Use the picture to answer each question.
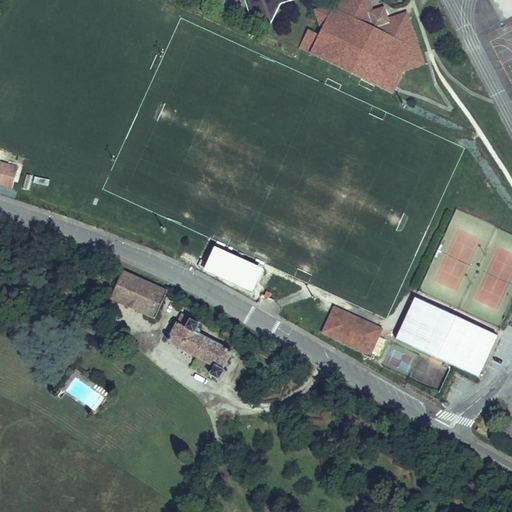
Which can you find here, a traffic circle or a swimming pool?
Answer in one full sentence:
Looking from above, you can make out a swimming pool.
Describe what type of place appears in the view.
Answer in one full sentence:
This image shows a sports ground.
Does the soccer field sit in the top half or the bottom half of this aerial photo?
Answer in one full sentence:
You can find the soccer field in the top half.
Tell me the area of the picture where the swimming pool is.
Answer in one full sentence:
The swimming pool is in the bottom left part of the image.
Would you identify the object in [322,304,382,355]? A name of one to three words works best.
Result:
building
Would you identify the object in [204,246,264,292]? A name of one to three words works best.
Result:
building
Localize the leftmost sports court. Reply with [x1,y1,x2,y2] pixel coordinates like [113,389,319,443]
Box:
[381,342,419,378]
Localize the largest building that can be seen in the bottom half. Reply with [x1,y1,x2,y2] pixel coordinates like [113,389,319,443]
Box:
[396,296,498,376]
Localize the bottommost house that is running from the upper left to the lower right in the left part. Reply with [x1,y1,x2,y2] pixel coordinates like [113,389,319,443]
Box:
[170,318,230,378]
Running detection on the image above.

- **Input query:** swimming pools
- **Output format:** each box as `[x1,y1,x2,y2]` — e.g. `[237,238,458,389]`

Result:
[64,368,108,414]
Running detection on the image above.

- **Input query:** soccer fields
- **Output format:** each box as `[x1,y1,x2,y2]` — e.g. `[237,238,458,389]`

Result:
[104,17,464,316]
